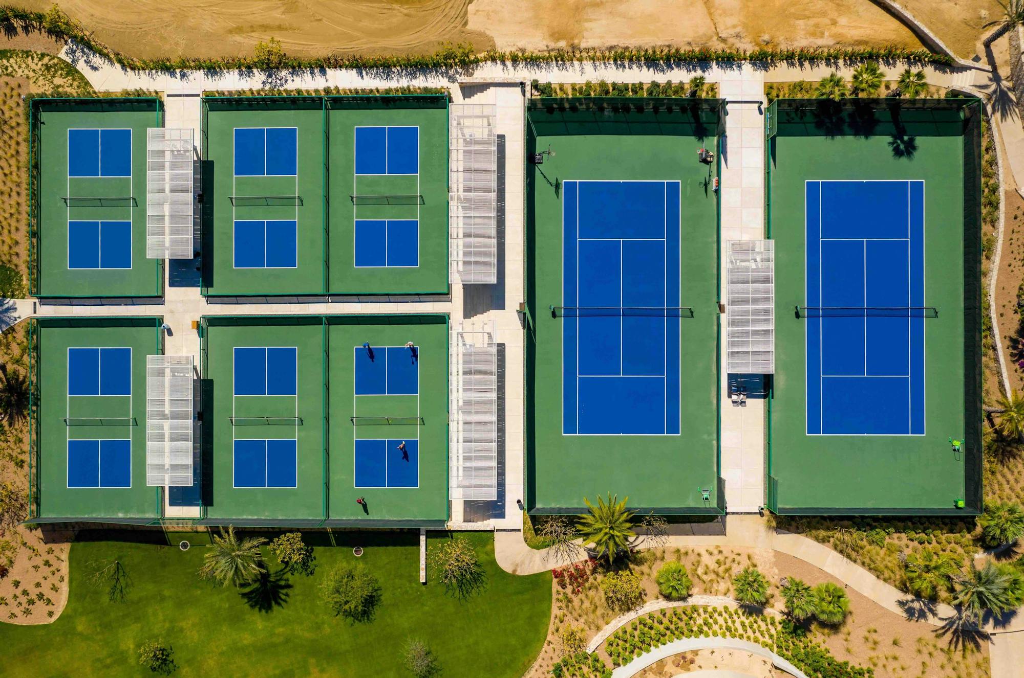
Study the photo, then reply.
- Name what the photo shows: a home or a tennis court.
tennis court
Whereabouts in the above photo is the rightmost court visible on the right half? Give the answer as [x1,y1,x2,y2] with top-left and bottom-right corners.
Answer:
[765,107,965,509]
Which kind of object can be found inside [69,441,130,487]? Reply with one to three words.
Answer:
sports court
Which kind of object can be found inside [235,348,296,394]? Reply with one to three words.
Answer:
sports court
